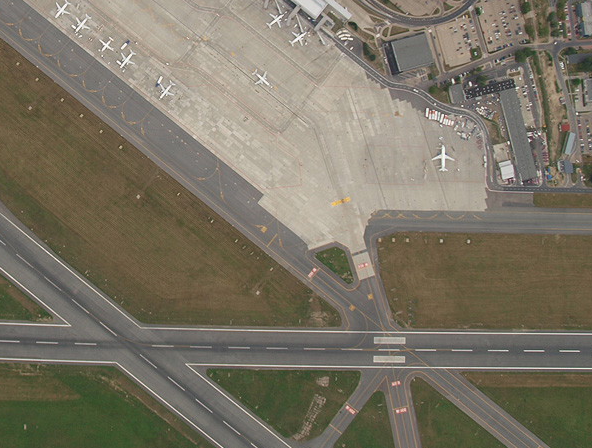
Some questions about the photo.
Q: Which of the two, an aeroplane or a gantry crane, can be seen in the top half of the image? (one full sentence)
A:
There is an aeroplane in the top half of the image.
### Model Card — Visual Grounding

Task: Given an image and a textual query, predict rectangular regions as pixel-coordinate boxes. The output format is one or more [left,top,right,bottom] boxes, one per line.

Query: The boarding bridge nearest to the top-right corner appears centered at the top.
[314,18,326,45]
